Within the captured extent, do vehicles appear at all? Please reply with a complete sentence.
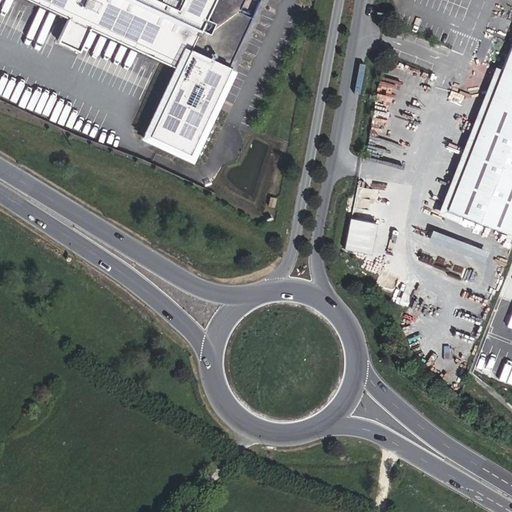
Yes, this view includes a vehicle.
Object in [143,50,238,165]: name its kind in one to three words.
building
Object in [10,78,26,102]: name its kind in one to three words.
vehicle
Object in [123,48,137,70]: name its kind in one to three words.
vehicle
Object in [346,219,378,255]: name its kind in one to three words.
shed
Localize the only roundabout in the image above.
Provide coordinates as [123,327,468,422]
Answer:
[200,278,370,446]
